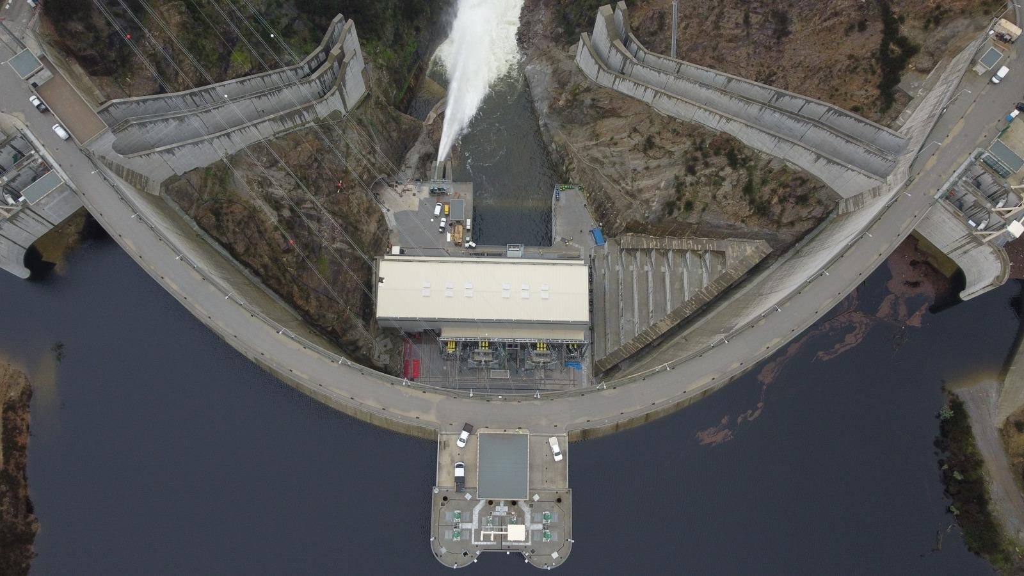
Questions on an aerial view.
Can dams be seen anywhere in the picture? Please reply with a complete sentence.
Yes, this view includes a dam.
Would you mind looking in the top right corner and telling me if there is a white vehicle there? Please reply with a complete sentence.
Yes, in the top right corner there is a white vehicle.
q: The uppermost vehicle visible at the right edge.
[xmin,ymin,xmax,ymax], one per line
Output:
[993,18,1024,44]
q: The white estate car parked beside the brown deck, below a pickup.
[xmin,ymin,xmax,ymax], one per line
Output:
[48,121,70,140]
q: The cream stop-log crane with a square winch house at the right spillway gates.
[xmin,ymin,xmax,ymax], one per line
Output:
[967,184,1024,251]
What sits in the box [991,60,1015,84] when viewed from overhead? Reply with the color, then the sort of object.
white vehicle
